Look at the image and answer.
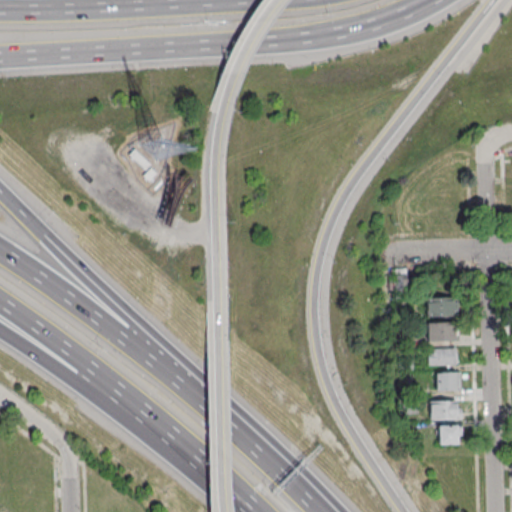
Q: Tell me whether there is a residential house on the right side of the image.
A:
Yes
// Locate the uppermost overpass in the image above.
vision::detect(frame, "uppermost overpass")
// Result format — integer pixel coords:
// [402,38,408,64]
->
[211,0,292,111]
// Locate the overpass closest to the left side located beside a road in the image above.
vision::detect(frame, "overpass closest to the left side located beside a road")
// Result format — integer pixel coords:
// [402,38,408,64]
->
[208,314,234,512]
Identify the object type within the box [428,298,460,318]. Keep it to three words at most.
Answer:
house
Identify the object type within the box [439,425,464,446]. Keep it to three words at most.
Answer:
house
